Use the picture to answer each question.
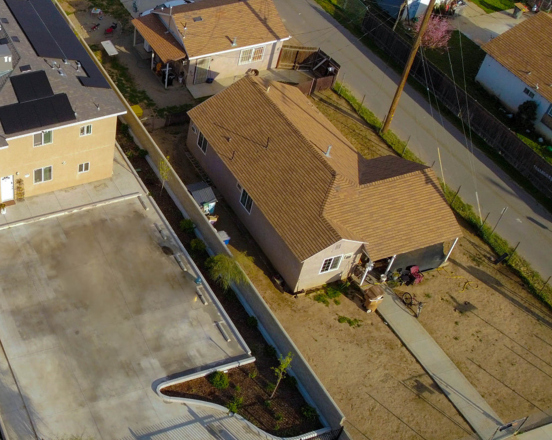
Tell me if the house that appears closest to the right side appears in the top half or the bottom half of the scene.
top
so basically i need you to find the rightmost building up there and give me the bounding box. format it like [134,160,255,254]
[472,11,552,142]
